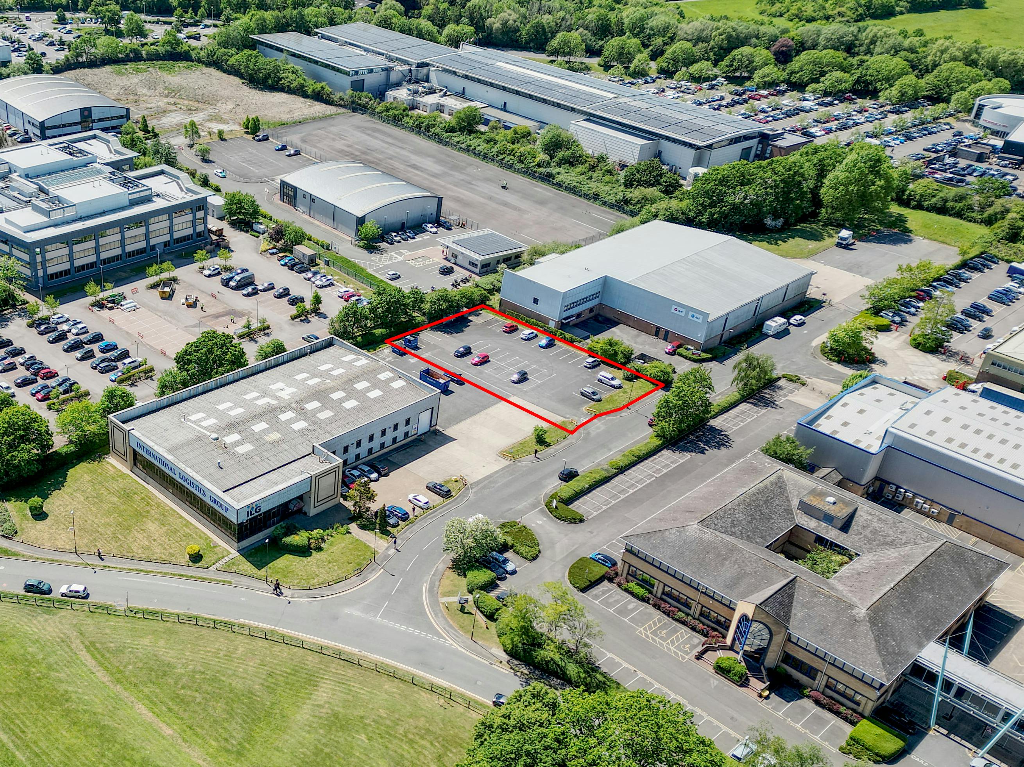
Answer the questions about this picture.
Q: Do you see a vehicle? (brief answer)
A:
Yes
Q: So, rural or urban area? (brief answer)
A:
urban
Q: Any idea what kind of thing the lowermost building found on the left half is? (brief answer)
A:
warehouse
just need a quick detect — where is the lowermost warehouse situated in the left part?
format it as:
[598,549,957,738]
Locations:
[105,335,440,550]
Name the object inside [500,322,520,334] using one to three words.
vehicle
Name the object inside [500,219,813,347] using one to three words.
warehouse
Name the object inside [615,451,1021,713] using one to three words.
building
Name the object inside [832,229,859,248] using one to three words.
vehicle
